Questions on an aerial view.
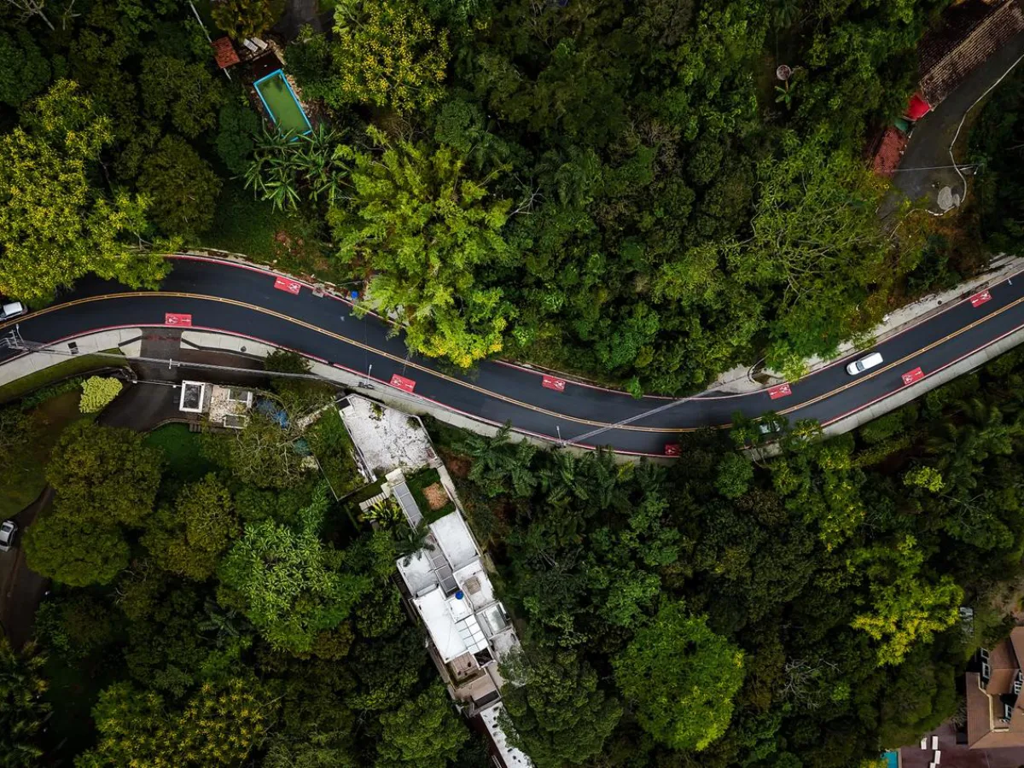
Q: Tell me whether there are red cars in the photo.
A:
No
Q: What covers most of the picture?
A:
trees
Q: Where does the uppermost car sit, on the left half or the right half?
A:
left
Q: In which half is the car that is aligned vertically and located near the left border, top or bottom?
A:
bottom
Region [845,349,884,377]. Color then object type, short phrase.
white vehicle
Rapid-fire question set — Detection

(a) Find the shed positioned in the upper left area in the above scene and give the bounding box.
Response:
[215,37,241,69]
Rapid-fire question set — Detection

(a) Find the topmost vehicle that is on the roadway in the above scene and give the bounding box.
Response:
[0,299,27,322]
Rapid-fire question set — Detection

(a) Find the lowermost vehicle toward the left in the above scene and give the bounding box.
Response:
[0,515,20,555]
